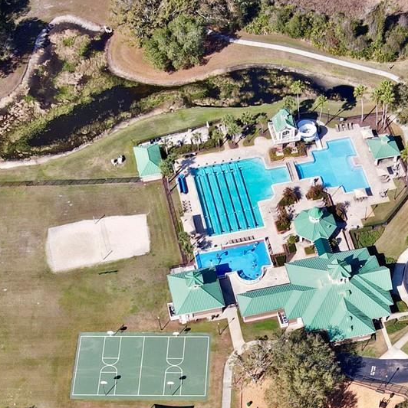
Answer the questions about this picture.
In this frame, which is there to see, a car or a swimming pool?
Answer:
swimming pool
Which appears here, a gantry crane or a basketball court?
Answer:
basketball court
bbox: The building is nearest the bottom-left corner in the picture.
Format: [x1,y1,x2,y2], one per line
[168,267,226,321]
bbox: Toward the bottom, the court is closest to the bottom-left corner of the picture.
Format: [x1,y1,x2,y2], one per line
[71,331,145,400]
